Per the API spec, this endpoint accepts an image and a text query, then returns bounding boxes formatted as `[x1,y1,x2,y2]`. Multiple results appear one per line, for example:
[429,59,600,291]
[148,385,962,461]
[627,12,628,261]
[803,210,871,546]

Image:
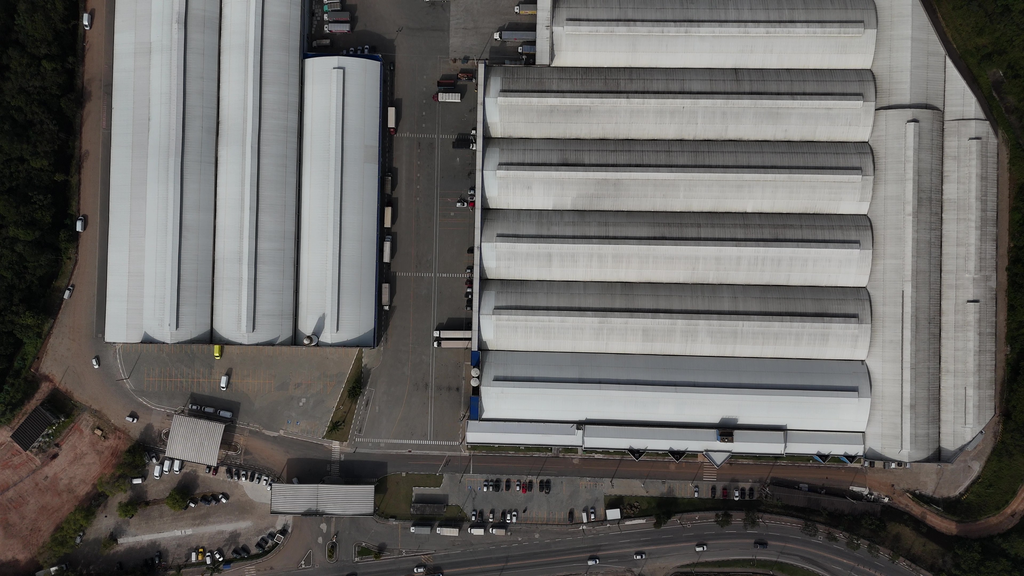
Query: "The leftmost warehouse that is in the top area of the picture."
[105,0,222,345]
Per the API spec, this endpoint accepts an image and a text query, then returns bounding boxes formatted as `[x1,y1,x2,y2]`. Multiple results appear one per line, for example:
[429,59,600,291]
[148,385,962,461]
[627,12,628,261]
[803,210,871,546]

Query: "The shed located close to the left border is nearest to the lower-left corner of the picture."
[10,405,61,454]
